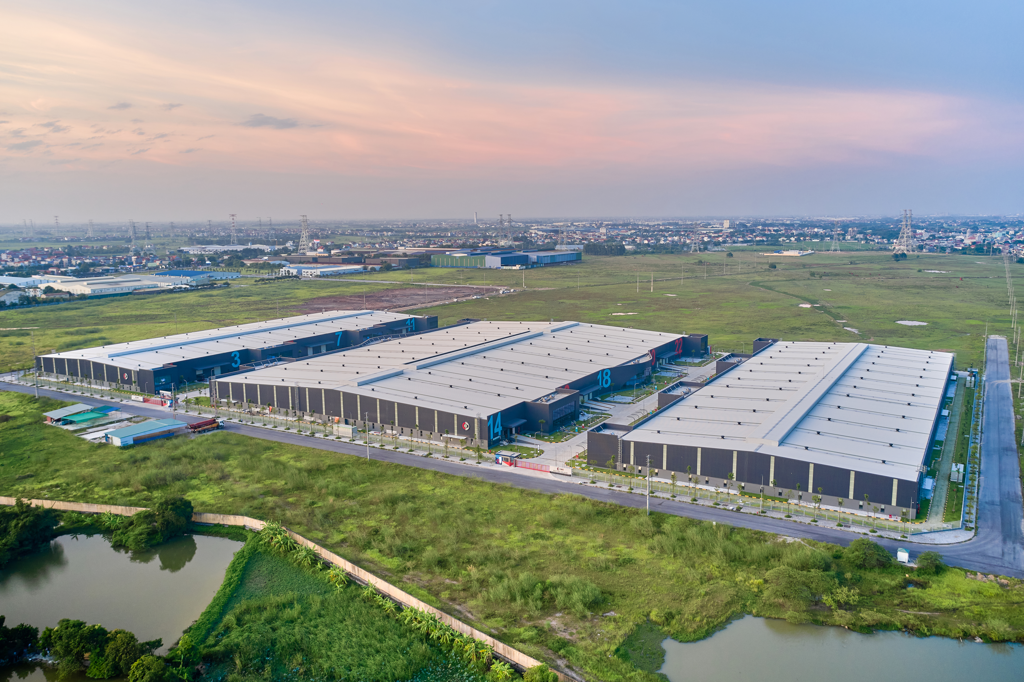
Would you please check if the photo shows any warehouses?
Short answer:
Yes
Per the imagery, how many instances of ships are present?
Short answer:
0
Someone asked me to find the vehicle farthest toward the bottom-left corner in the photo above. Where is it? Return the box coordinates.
[192,417,227,434]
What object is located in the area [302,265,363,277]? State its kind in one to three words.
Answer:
building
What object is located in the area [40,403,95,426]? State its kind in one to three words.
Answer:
shed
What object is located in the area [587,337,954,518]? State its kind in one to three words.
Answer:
warehouse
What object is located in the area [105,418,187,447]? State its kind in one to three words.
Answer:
shed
